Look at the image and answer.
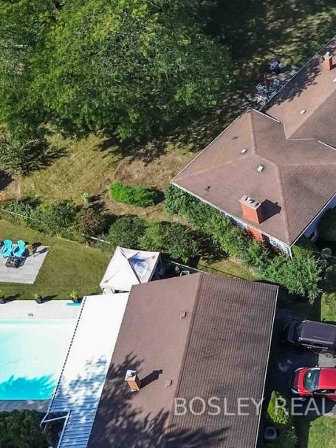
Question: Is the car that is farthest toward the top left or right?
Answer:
right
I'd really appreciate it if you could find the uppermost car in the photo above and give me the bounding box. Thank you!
[279,316,336,359]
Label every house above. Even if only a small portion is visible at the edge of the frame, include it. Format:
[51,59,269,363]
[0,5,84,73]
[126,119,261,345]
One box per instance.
[171,36,336,254]
[42,269,281,448]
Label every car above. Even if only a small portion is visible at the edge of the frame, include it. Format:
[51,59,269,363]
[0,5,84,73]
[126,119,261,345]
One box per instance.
[279,316,336,359]
[288,361,336,401]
